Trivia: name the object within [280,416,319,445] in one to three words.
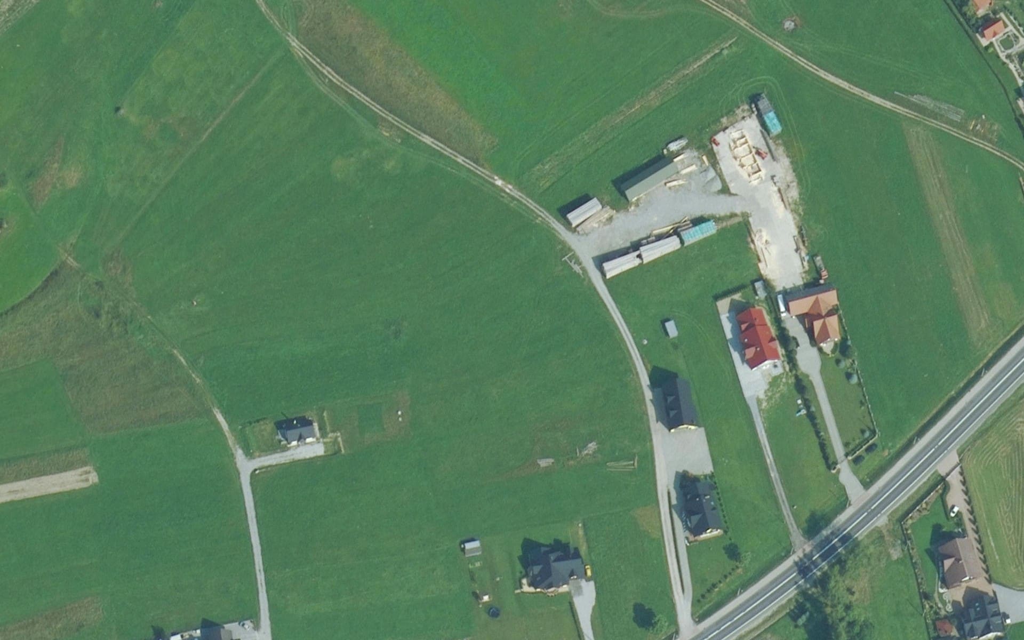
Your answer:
house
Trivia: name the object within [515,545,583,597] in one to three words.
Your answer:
house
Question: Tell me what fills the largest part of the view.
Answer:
grass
